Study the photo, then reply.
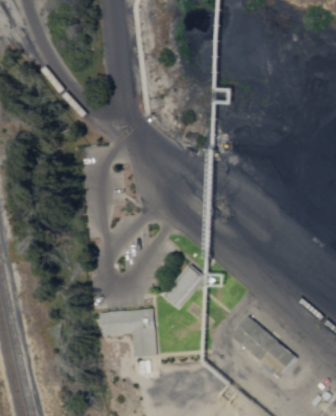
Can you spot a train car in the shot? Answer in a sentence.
Yes, the image includes a train car.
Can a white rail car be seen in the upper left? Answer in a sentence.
Yes, you'll find a white rail car in the upper left.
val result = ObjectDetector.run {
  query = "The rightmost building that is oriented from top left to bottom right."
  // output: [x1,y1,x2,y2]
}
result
[234,317,298,376]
